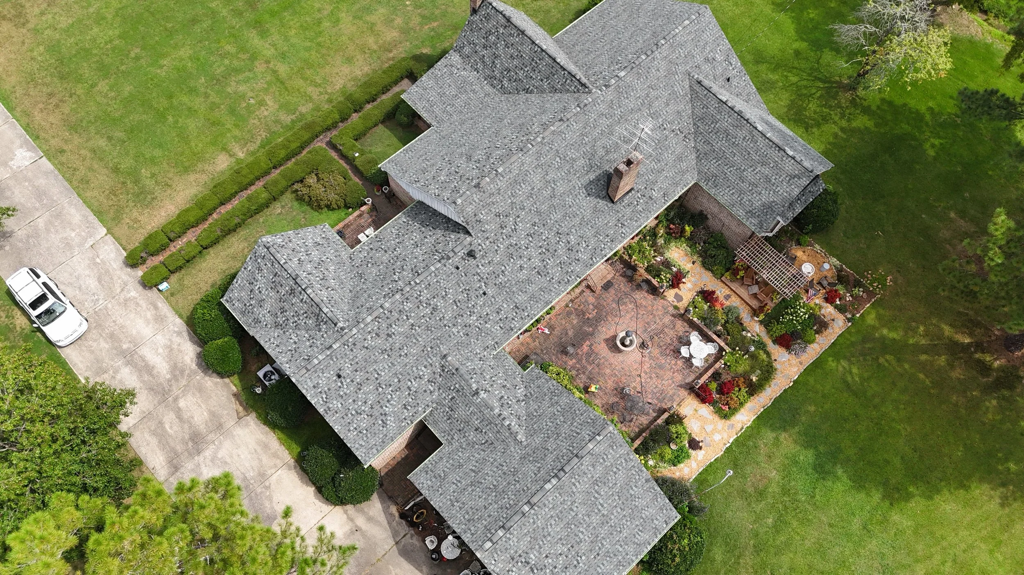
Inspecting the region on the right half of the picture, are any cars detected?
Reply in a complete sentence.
No, I can find no car on the right half of the picture.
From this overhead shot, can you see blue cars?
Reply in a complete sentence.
No, there isn't any blue car down there.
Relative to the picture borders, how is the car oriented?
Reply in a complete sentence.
The car has been laid out on a diagonal relative to the frame.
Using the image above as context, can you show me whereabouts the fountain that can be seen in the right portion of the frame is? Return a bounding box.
[617,330,637,351]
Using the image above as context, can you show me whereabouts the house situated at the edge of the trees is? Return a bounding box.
[220,0,835,575]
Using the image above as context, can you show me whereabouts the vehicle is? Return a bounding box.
[7,263,90,348]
